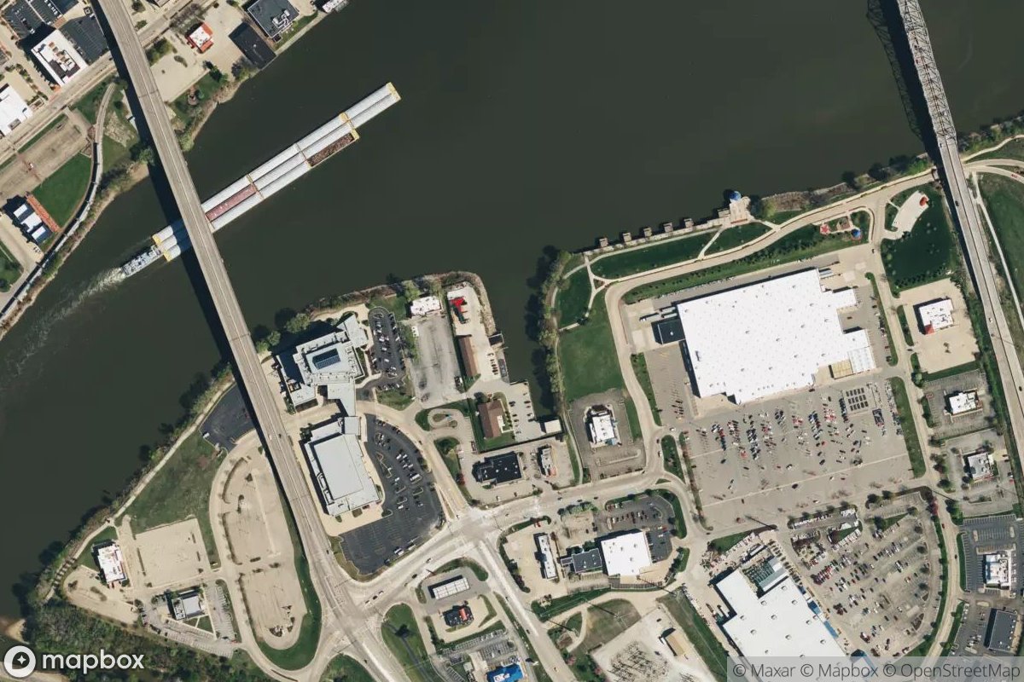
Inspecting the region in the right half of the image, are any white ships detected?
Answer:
No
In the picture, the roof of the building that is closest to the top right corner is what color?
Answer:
white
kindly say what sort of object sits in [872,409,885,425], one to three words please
vehicle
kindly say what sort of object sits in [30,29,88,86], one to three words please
building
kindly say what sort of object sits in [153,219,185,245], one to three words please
ship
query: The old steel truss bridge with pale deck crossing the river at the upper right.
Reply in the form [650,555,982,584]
[899,0,1024,454]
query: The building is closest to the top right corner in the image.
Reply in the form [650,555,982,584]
[920,299,955,334]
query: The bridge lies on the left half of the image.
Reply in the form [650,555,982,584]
[98,0,334,567]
